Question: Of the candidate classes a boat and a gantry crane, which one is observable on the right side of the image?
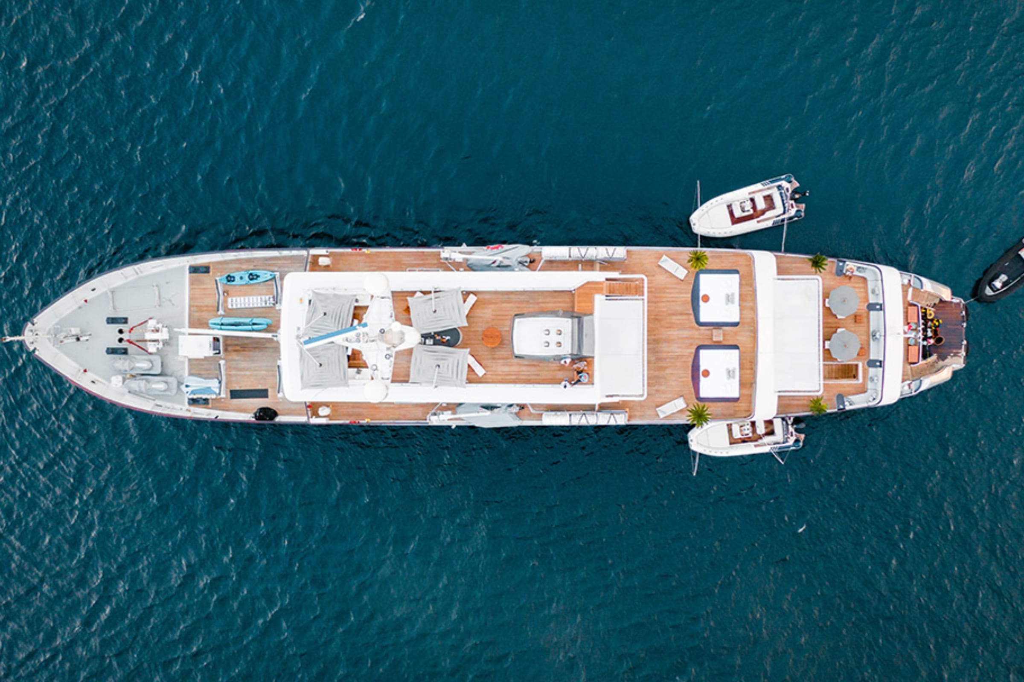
boat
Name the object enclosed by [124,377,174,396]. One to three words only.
boat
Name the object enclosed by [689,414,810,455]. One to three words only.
boat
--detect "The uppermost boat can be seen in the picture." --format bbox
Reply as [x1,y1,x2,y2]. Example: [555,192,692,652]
[691,174,809,236]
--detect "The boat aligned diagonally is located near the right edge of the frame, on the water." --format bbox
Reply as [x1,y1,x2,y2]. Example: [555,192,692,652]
[969,236,1024,305]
